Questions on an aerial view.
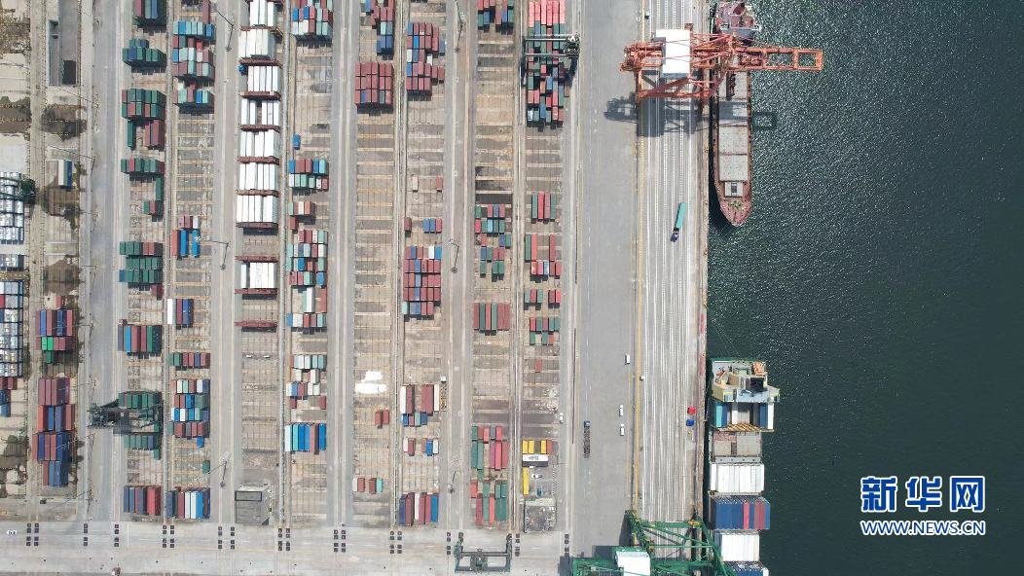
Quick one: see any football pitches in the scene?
No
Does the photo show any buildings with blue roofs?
No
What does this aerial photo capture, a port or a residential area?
port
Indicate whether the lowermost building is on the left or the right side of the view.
left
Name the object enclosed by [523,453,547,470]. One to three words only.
building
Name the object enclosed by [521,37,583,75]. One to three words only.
container crane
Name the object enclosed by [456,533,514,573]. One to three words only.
container crane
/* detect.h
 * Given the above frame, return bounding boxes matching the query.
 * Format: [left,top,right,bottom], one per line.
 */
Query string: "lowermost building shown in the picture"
[232,490,267,528]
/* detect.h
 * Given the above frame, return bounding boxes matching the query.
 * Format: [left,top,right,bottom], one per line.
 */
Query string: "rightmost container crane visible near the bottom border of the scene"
[572,506,751,576]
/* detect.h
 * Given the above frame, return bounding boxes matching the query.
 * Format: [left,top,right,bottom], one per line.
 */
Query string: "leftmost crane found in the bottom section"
[87,398,169,431]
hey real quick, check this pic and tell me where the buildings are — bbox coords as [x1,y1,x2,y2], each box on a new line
[57,0,80,85]
[232,490,267,528]
[523,453,547,470]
